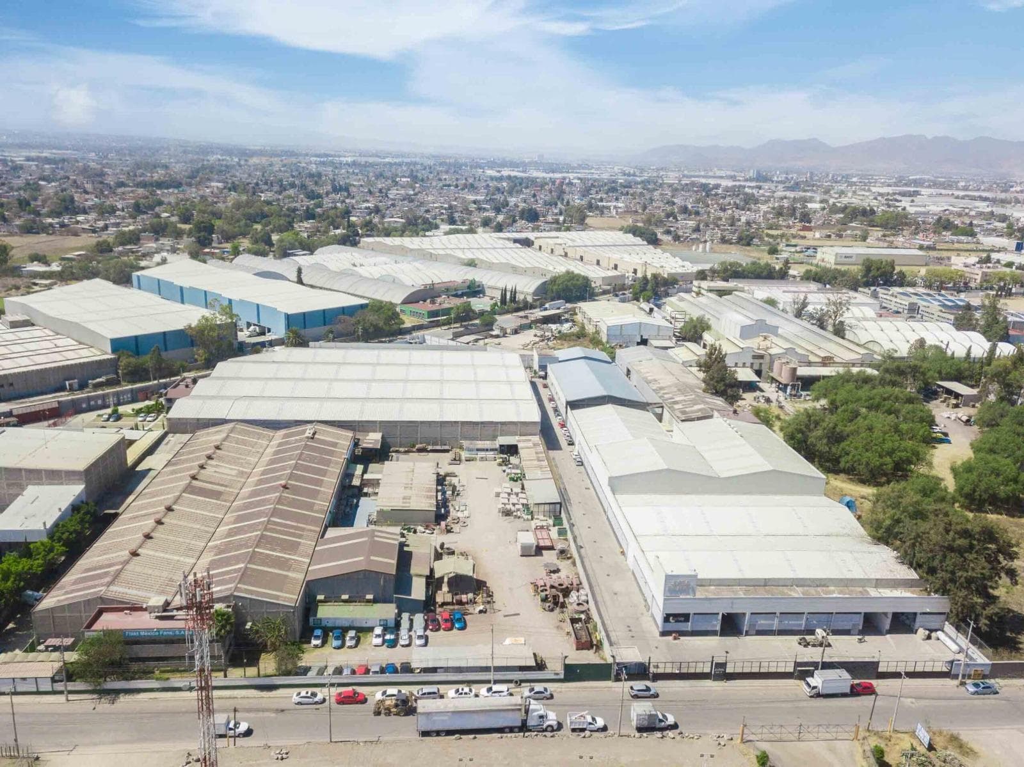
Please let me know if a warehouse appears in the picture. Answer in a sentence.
Yes, the picture does show a warehouse.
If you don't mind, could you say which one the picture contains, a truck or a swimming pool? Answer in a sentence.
The one in the frame is a truck.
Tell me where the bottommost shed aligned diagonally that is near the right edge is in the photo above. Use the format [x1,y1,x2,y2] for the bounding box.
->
[934,381,979,409]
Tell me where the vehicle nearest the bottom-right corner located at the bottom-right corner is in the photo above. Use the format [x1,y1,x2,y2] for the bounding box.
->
[966,680,999,695]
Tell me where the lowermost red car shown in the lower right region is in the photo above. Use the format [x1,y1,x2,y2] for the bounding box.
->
[850,681,881,695]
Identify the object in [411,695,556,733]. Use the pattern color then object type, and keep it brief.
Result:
white truck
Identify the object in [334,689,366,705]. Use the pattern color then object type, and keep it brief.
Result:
red car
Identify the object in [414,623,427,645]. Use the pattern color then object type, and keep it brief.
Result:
white vehicle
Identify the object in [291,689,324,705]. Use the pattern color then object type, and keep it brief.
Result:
white car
